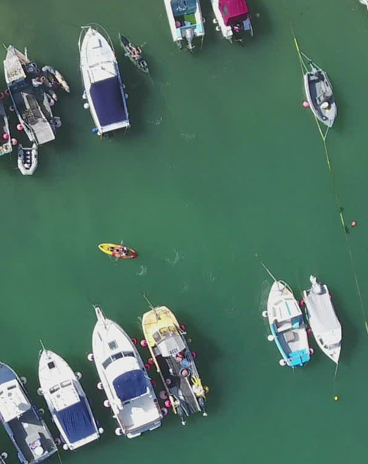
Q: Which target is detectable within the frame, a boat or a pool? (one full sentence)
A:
There is a boat in the scene.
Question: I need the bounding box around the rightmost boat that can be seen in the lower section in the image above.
[300,276,345,364]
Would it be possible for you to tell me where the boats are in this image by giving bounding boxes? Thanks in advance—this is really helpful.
[37,346,100,449]
[0,361,56,464]
[300,276,345,364]
[17,144,38,174]
[210,0,253,45]
[3,46,55,144]
[80,22,130,141]
[164,0,203,52]
[143,305,208,425]
[92,305,164,438]
[266,276,313,367]
[118,33,149,73]
[99,243,139,259]
[304,63,335,127]
[44,69,70,99]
